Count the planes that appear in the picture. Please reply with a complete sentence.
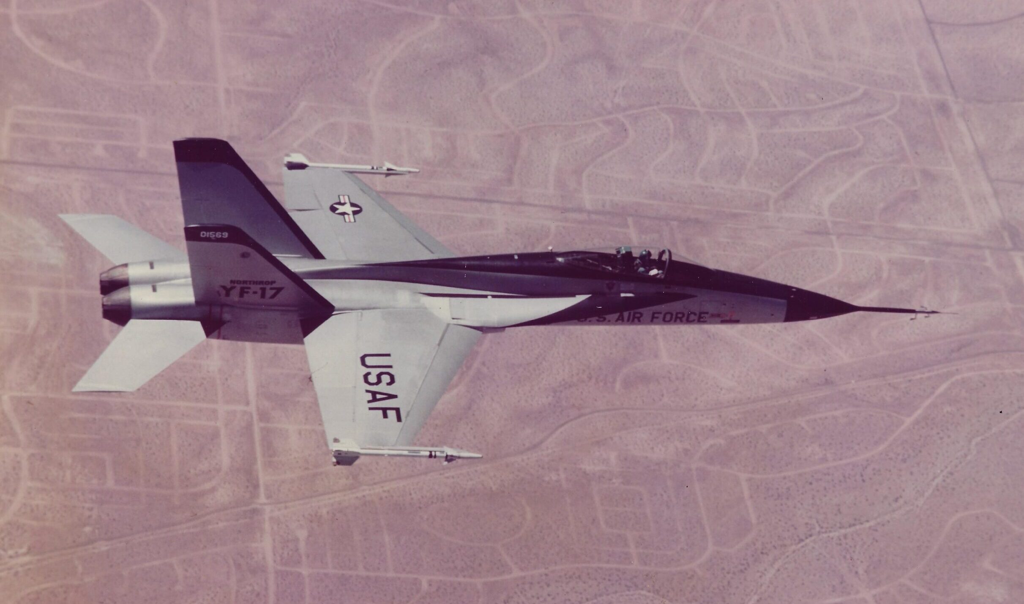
There is 1 plane in the image.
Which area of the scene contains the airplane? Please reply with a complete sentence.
The airplane sits in the center section of the image.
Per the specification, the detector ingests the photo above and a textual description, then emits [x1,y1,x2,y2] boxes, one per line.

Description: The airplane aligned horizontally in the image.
[58,140,957,453]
